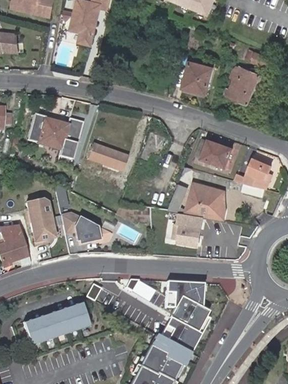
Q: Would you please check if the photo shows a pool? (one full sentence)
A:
Yes, a pool is visible in the scene.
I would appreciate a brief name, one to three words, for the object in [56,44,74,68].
swimming pool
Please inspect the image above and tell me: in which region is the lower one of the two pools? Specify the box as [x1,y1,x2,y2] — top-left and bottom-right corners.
[115,224,141,244]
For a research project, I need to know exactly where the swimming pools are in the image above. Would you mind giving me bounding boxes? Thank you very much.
[115,224,141,244]
[56,44,74,68]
